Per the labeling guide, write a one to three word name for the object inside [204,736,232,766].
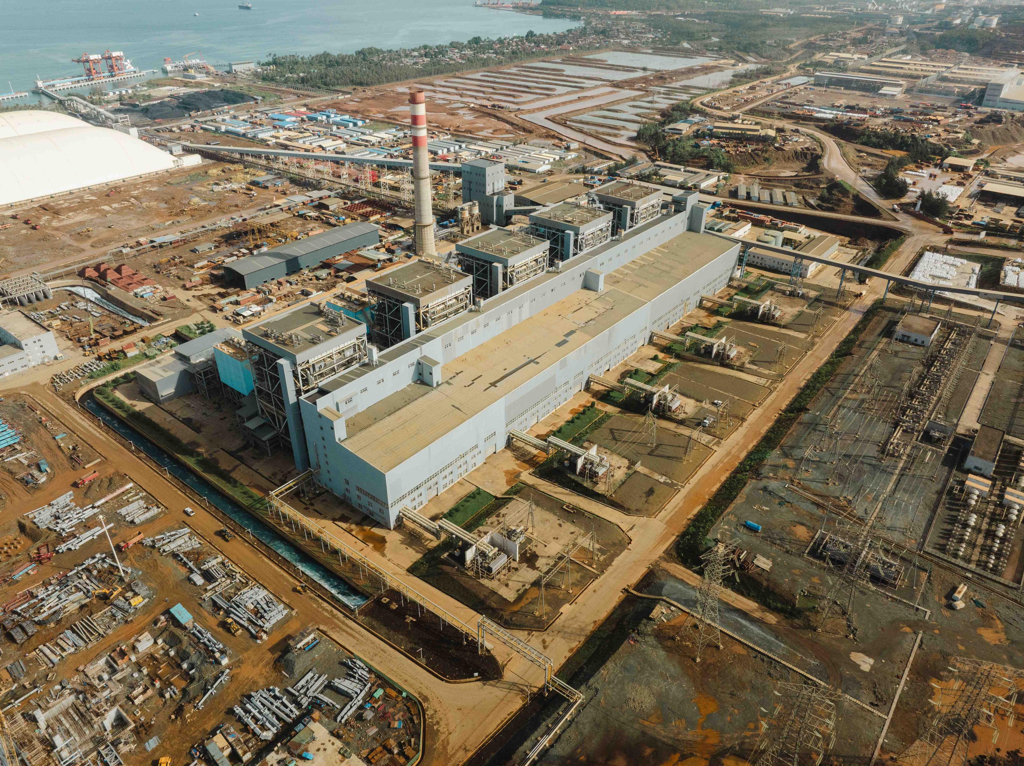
shed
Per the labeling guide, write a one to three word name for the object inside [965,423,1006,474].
building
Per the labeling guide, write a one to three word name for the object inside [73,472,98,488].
vehicle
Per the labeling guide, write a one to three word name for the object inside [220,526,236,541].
work vehicle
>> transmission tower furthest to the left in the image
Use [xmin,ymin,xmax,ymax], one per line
[679,526,727,662]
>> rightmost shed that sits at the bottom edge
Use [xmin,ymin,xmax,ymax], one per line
[288,726,316,758]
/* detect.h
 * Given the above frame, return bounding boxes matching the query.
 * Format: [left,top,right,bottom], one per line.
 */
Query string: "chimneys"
[408,90,435,257]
